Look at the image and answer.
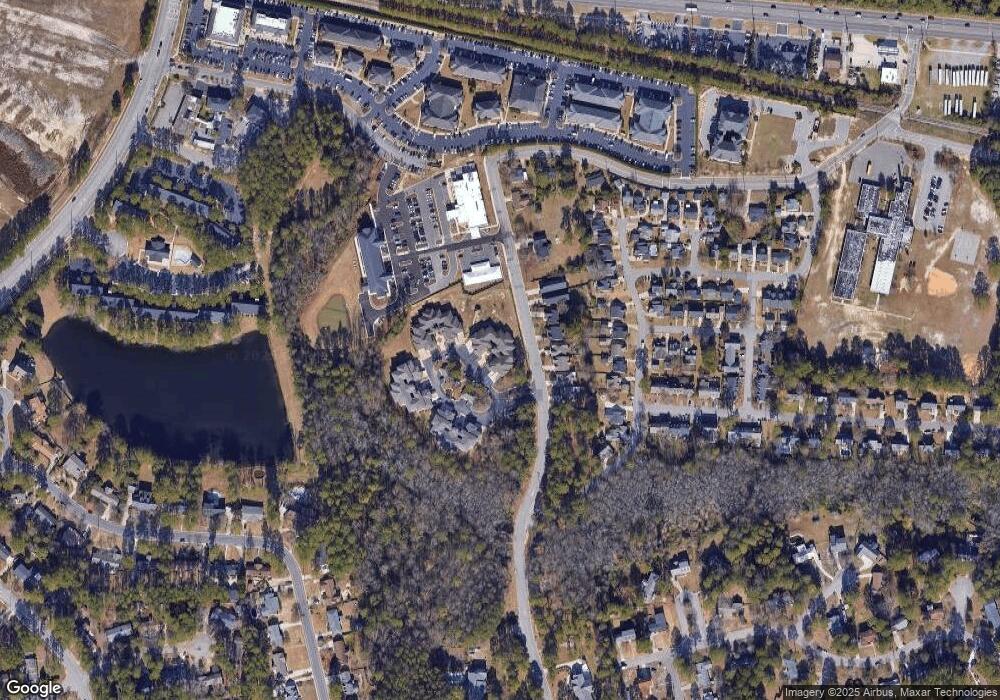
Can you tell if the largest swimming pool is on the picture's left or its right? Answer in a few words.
left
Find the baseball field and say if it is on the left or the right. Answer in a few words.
right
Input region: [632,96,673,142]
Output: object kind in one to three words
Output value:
building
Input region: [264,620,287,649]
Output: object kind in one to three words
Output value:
house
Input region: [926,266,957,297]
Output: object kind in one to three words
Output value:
baseball field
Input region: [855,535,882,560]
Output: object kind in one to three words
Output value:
house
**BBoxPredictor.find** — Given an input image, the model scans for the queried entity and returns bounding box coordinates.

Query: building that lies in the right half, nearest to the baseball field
[833,181,915,300]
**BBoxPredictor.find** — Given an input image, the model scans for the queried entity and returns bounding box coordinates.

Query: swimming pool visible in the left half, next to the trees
[166,241,203,272]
